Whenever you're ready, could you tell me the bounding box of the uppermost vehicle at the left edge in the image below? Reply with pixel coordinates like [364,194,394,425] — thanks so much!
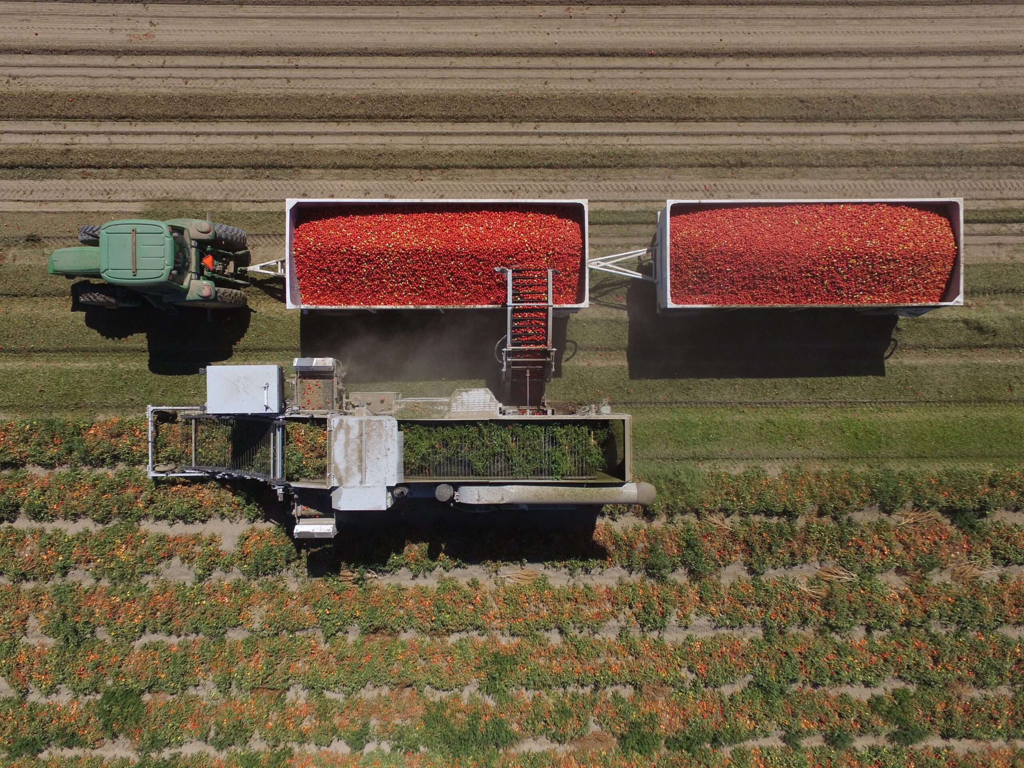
[45,212,250,323]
